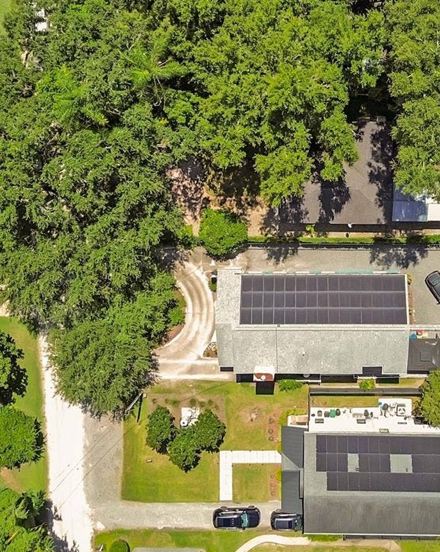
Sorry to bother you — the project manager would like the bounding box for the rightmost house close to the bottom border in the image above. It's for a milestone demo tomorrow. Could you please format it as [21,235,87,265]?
[282,417,440,535]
